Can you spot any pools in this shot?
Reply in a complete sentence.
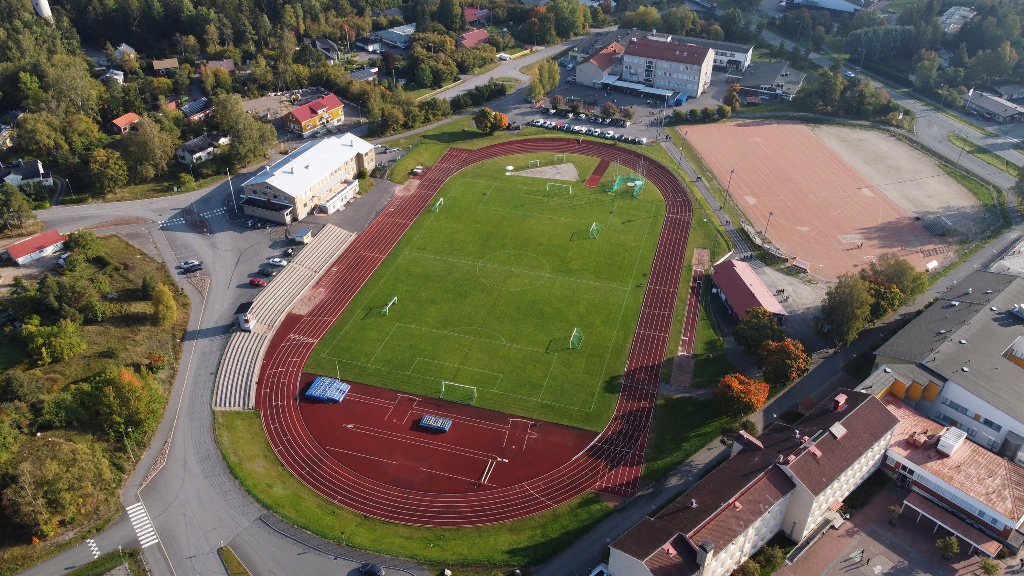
No, no pool is visible in the scene.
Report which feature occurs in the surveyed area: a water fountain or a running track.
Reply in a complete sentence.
Looking from above, you can make out a running track.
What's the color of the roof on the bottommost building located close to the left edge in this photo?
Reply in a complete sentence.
From above, the roof of the bottommost building located close to the left edge looks red.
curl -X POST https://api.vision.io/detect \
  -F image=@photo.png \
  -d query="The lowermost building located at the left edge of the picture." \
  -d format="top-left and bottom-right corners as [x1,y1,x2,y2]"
[5,231,66,266]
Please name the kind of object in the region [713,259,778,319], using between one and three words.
building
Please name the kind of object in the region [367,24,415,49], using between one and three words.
house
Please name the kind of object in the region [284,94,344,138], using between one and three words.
house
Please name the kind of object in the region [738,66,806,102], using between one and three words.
building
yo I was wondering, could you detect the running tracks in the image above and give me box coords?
[261,144,693,528]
